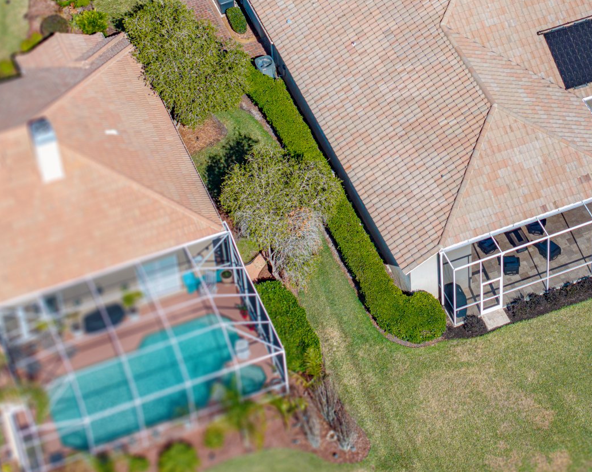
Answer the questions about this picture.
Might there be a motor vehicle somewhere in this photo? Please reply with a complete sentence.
No, I find no motor vehicle anywhere in the image.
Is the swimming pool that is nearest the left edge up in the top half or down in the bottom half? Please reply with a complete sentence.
The bottom half of the photo is where the swimming pool that is nearest the left edge is.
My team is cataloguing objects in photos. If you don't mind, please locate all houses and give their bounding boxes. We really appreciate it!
[0,25,228,343]
[240,0,592,303]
